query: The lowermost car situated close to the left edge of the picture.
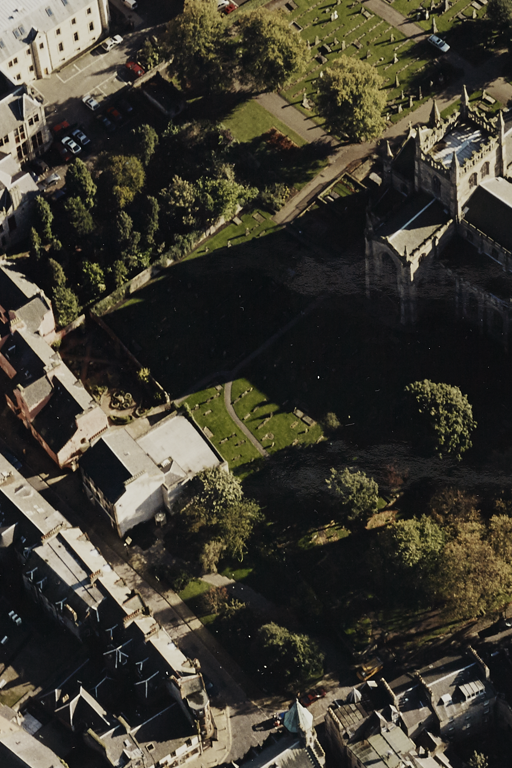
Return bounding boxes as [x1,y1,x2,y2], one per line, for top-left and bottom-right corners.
[2,450,24,472]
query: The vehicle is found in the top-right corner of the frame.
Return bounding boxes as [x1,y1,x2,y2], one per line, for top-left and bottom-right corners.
[430,33,449,50]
